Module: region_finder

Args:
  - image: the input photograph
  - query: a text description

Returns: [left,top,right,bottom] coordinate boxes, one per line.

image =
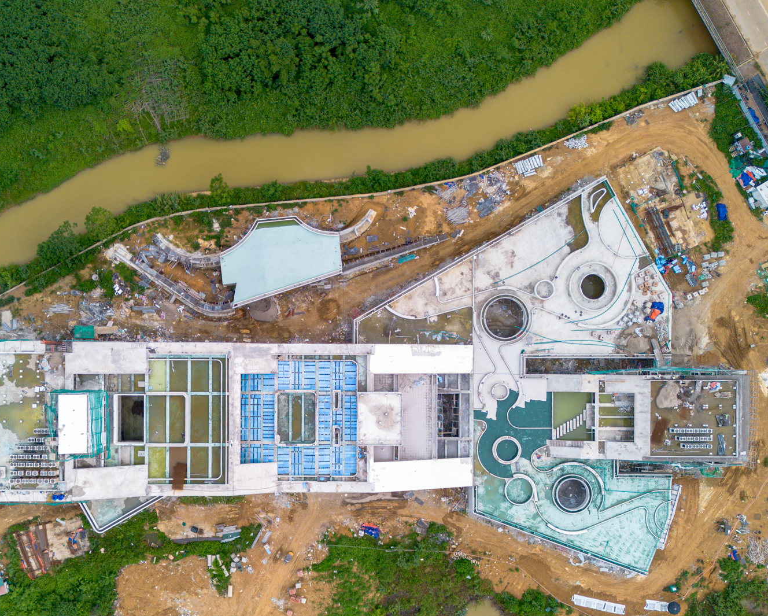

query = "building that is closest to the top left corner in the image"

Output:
[220,217,343,309]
